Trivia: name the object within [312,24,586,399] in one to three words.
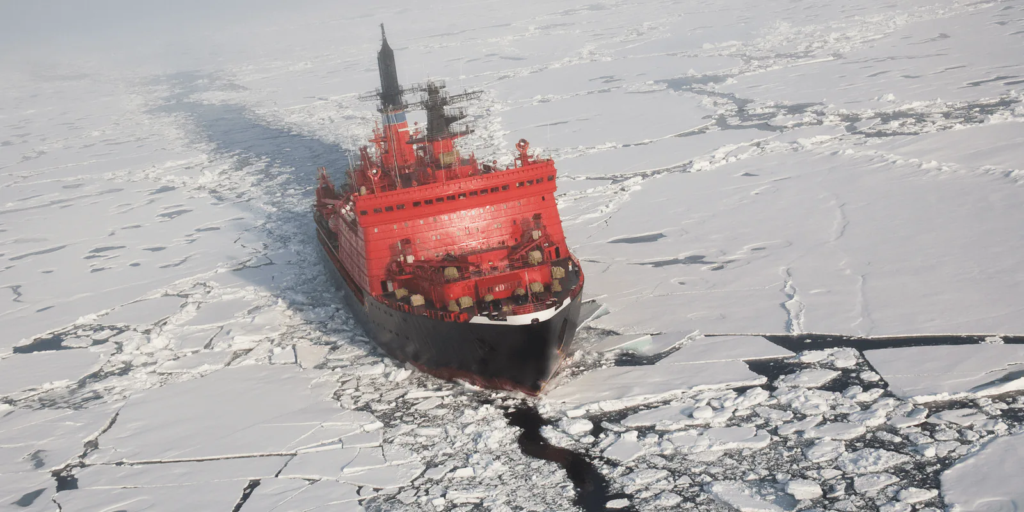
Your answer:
ship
